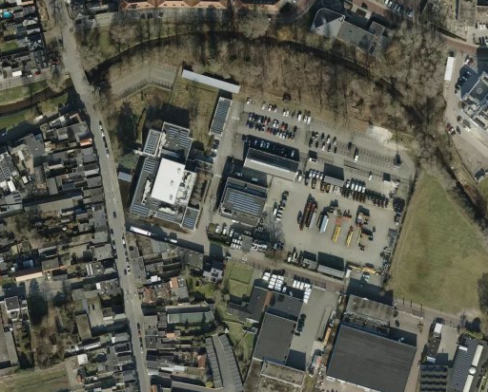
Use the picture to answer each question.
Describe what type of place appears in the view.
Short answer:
residential area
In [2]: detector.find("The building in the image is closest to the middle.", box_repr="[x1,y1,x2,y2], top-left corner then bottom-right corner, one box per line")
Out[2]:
[219,177,268,226]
